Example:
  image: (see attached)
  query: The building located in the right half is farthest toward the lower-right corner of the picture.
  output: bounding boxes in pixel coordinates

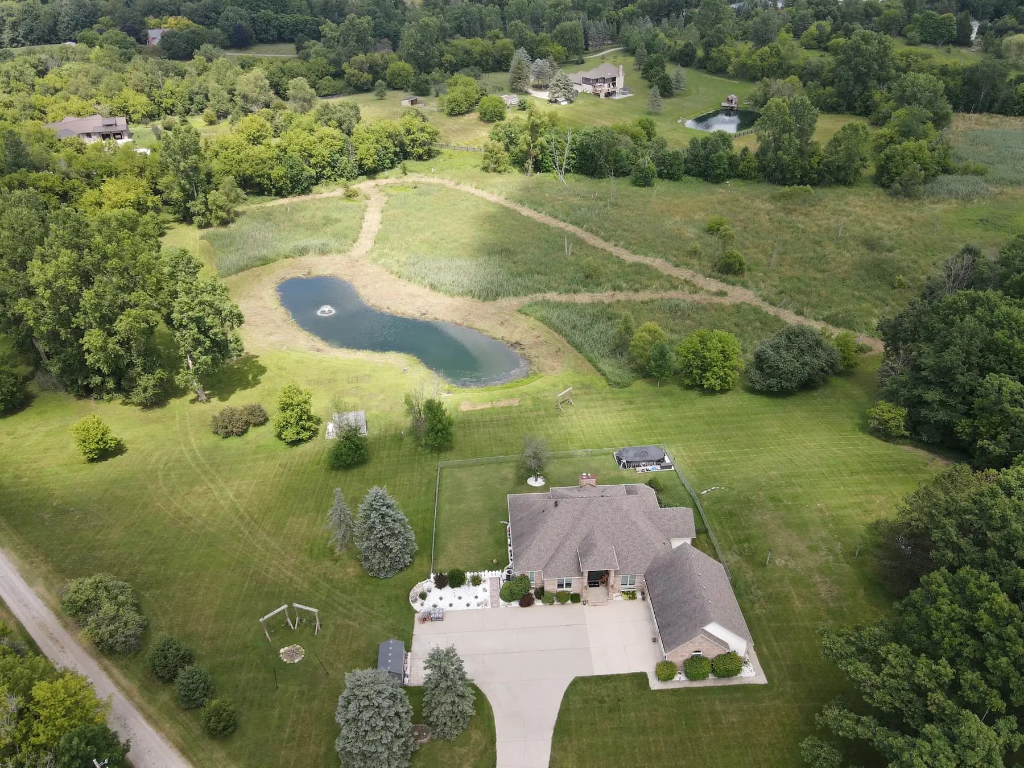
[507,470,754,673]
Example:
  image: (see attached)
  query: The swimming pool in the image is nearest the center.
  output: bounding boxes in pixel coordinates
[619,445,665,471]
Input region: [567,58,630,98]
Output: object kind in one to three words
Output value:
house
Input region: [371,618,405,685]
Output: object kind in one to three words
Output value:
shed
